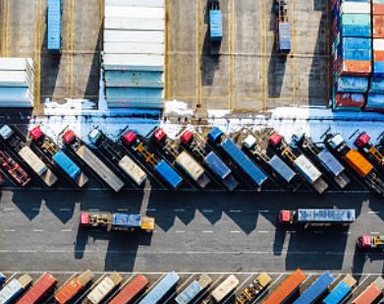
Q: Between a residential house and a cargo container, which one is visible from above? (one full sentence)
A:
There is a cargo container in the scene.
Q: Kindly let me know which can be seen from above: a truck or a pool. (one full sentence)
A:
This aerial view contains a truck.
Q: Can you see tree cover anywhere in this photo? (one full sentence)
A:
No, the scene doesn't show any tree cover.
